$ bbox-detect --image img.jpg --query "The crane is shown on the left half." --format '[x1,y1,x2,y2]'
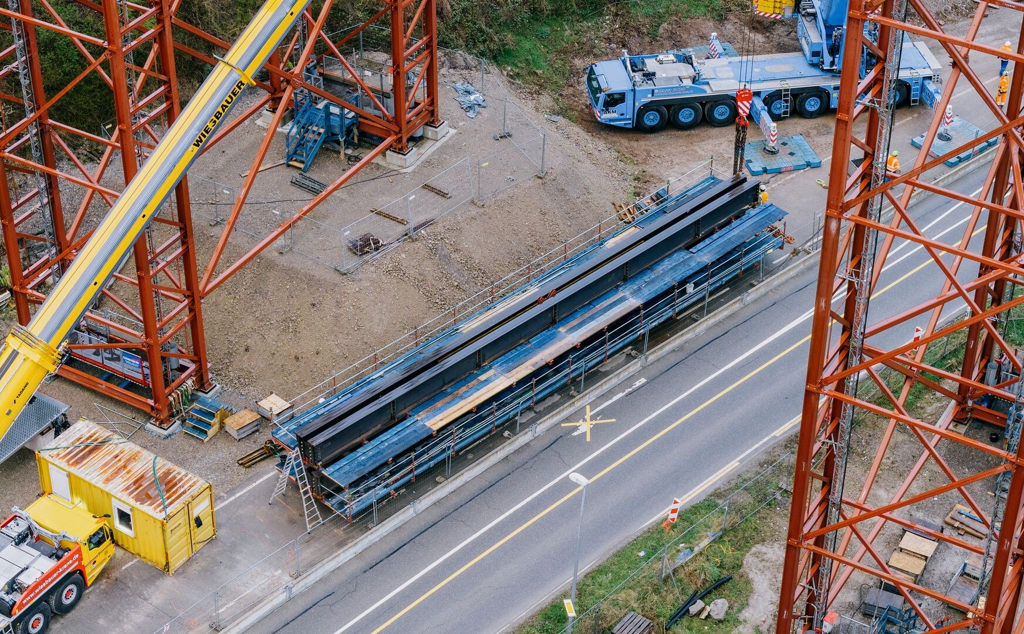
[0,0,310,634]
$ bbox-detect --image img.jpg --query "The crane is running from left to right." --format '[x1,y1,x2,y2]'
[576,0,953,155]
